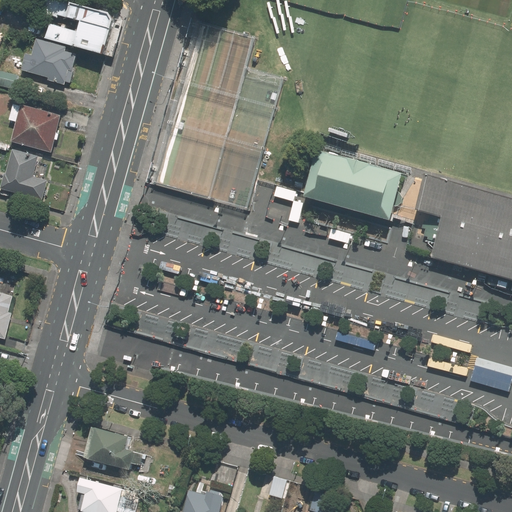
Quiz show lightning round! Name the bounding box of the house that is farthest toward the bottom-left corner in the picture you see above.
[76,477,124,512]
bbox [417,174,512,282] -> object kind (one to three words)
building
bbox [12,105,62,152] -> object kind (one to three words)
house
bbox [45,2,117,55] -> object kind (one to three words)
building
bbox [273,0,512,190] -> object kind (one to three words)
sports field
